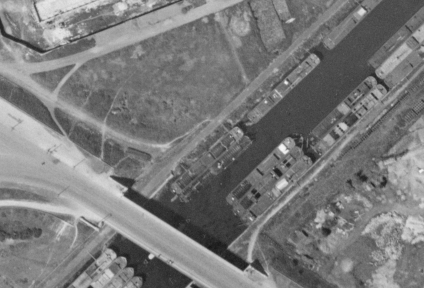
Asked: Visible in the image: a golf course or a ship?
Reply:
ship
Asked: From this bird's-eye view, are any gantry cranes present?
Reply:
No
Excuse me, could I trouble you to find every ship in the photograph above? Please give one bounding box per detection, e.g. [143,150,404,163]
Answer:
[315,82,390,154]
[374,24,424,78]
[64,246,119,288]
[231,144,305,217]
[241,154,314,225]
[367,5,424,67]
[106,266,138,288]
[124,274,146,288]
[224,135,297,205]
[308,74,378,140]
[320,0,379,50]
[85,255,130,288]
[169,127,243,195]
[243,53,320,124]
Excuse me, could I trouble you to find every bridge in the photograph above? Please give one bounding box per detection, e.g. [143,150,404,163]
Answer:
[95,186,250,288]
